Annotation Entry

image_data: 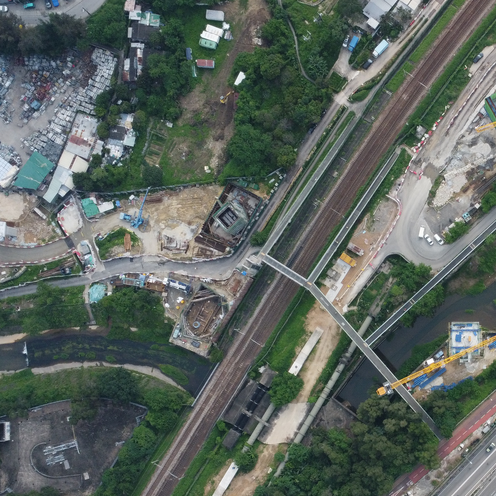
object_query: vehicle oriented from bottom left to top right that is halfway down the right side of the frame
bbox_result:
[463,204,480,221]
